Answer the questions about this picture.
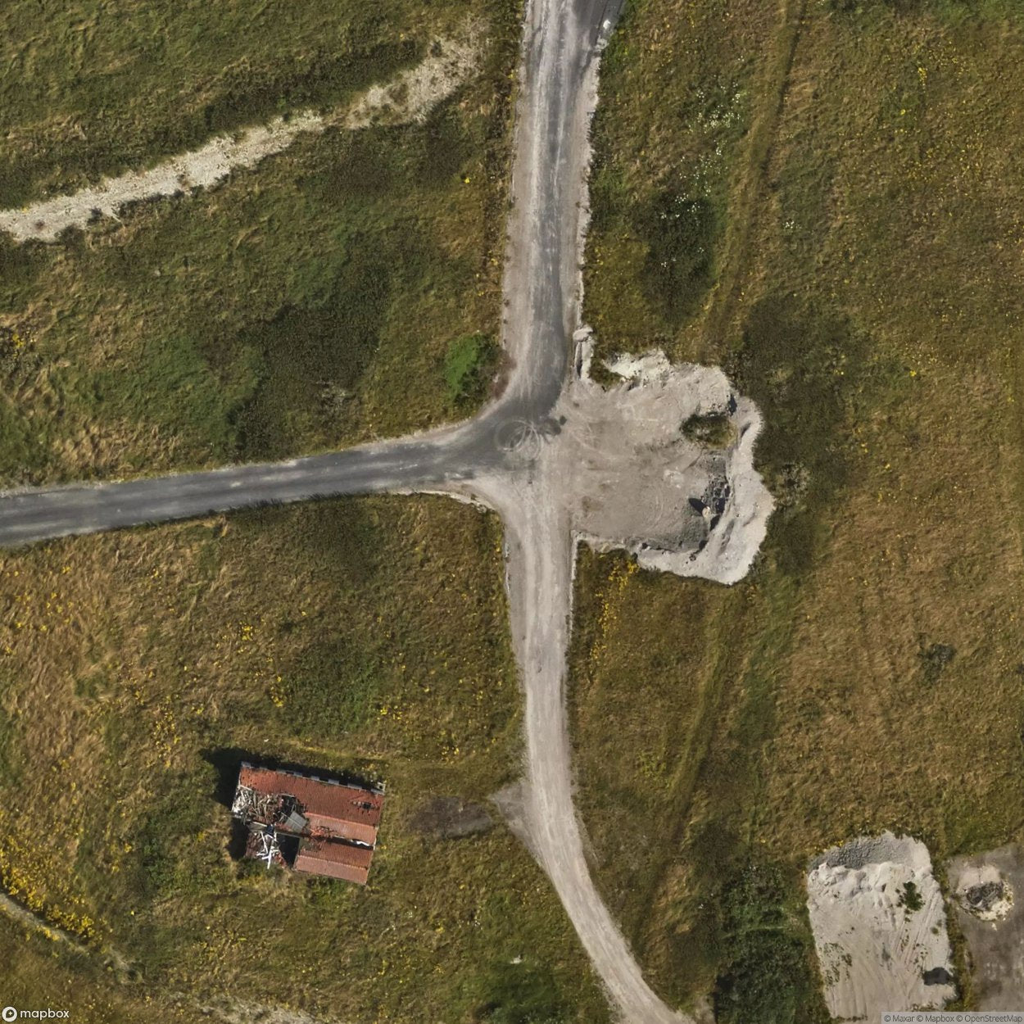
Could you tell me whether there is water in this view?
No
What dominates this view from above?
grass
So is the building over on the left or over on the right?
left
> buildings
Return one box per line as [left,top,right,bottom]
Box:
[227,763,384,887]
